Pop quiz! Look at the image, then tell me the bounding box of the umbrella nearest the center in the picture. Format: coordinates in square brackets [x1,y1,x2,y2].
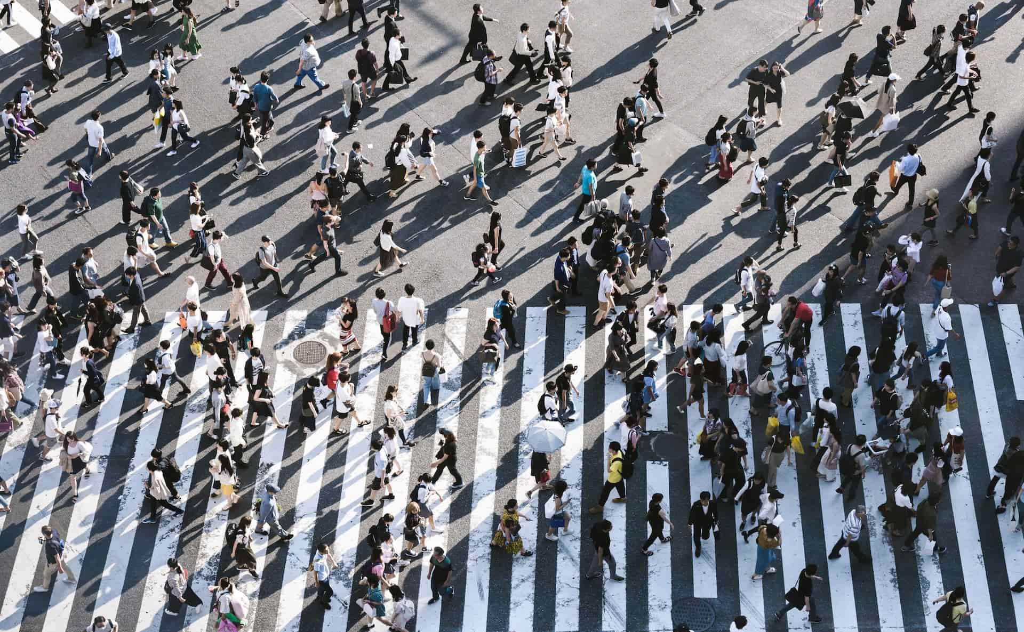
[524,414,572,464]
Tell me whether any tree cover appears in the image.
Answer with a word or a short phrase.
No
